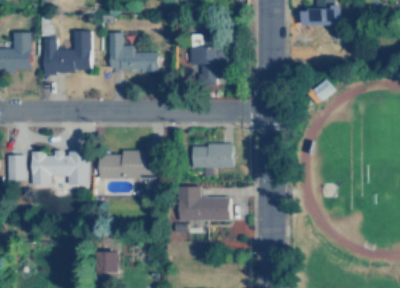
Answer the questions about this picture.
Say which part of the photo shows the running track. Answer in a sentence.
The running track sits in the right section of the image.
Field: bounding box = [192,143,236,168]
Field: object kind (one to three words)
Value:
house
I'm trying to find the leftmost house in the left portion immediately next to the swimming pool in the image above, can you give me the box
[30,150,92,186]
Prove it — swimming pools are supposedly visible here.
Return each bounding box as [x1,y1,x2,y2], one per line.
[94,178,136,196]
